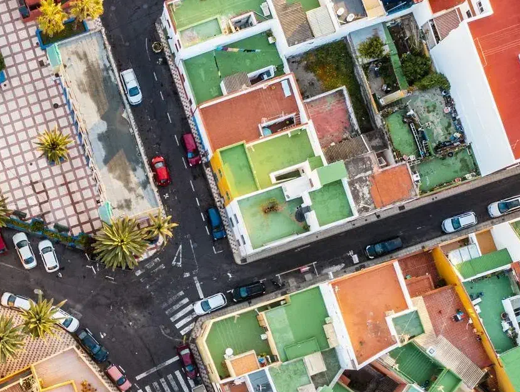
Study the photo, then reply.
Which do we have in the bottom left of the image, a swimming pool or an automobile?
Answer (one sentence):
The feature located in the bottom left of the image is an automobile.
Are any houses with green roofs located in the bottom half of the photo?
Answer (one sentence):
Yes, the scene does show a house with a green roof in the bottom half of the photo.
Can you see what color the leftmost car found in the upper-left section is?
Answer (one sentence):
The leftmost car found in the upper-left section looks white in the image.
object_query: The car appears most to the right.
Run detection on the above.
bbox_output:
[485,194,520,218]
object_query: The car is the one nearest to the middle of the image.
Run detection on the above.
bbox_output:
[203,204,227,243]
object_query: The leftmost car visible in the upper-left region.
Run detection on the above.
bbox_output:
[118,68,142,108]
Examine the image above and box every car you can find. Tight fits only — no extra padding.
[77,328,107,363]
[362,235,403,259]
[227,280,267,302]
[118,68,142,108]
[179,132,203,170]
[36,239,61,275]
[150,154,170,190]
[48,305,82,333]
[13,233,37,269]
[190,291,230,316]
[485,194,520,218]
[101,357,134,392]
[203,204,227,243]
[438,212,477,234]
[176,343,199,380]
